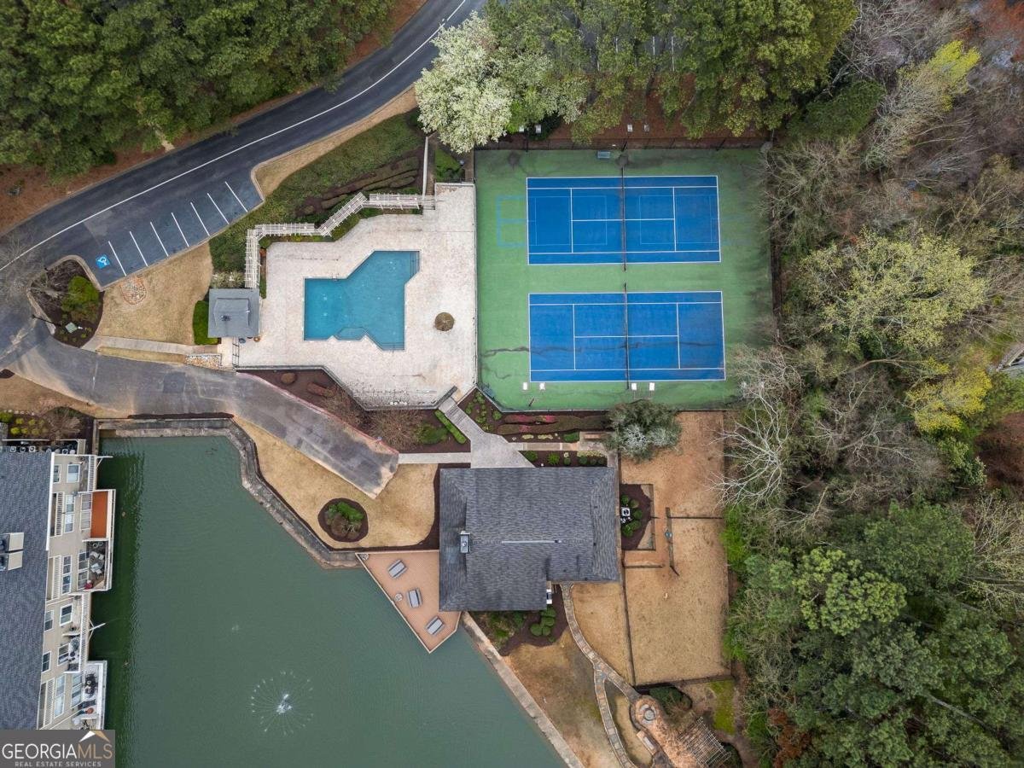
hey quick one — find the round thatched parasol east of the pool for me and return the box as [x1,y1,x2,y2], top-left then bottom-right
[434,311,456,333]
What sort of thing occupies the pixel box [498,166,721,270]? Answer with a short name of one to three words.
tennis court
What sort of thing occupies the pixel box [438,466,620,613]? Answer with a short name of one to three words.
building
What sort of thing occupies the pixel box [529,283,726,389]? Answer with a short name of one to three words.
tennis court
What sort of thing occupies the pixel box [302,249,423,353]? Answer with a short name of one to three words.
swimming pool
